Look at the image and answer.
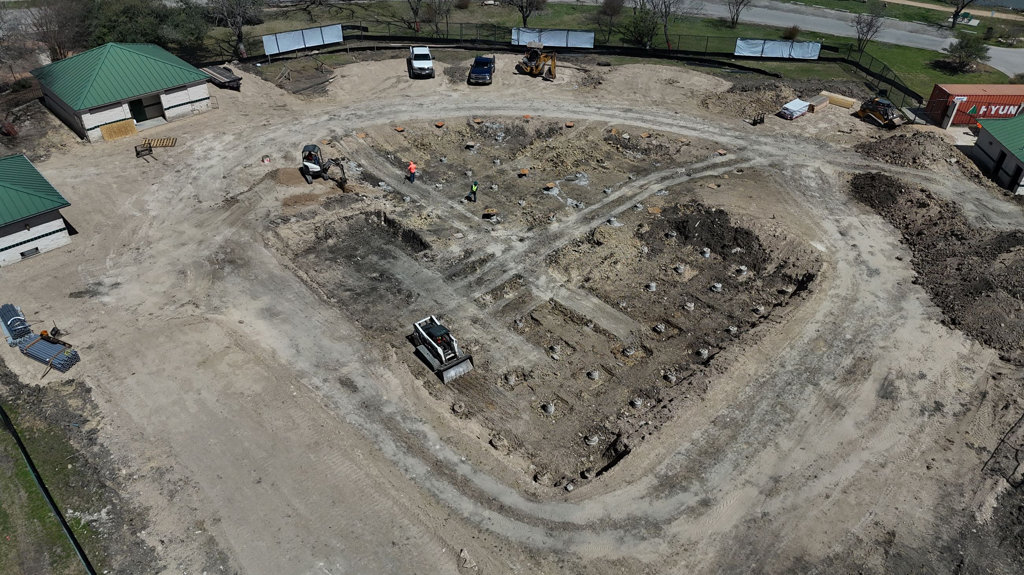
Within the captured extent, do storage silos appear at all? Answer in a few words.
No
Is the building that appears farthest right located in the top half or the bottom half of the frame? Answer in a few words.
top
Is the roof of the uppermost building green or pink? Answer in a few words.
green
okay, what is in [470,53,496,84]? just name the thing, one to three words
truck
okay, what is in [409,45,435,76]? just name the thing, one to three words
truck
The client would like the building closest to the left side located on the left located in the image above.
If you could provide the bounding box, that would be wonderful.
[0,152,73,268]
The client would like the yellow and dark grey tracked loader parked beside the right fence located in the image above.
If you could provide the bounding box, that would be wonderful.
[860,92,907,132]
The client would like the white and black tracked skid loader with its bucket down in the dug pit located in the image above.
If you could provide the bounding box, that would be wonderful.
[408,314,475,383]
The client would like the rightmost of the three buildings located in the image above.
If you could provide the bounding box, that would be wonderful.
[974,118,1024,195]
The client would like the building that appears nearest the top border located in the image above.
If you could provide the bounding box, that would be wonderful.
[29,43,212,143]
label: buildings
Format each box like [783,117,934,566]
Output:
[0,152,73,268]
[29,43,212,143]
[974,118,1024,195]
